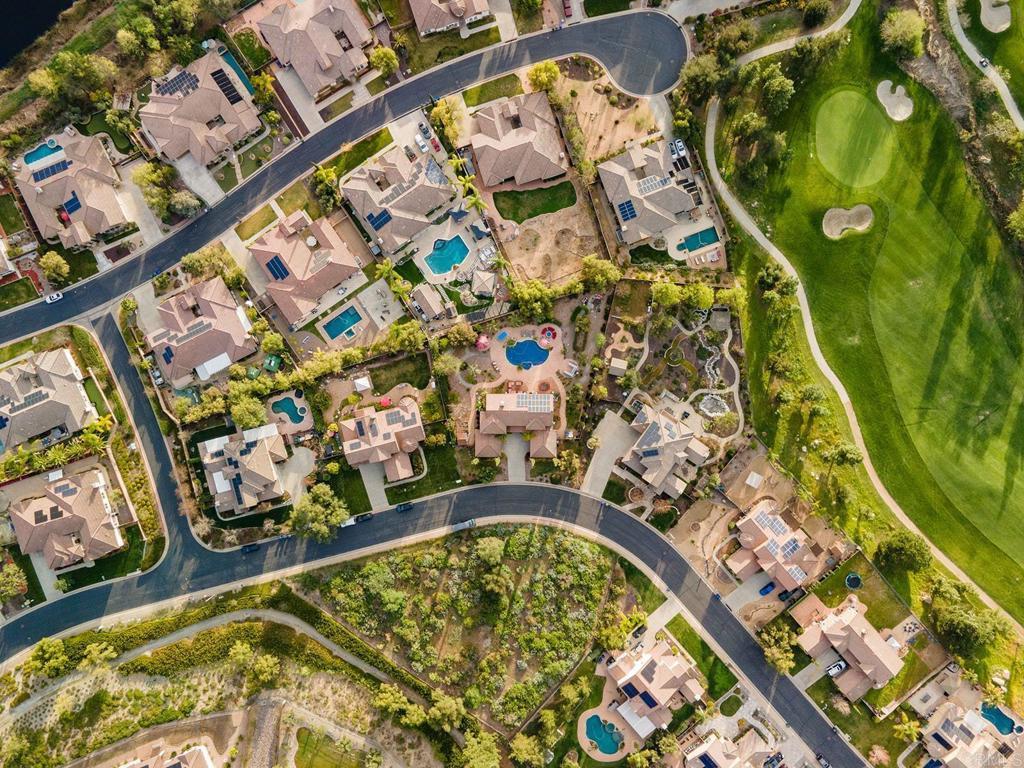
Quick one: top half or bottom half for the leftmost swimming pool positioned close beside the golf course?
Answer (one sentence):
The leftmost swimming pool positioned close beside the golf course is in the top half of the image.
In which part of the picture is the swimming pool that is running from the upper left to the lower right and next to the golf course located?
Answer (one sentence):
The swimming pool that is running from the upper left to the lower right and next to the golf course is located in the bottom right region of the scene.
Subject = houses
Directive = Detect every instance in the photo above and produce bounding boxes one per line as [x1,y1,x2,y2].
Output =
[608,636,706,739]
[595,140,696,245]
[340,395,425,479]
[137,52,263,169]
[340,138,455,255]
[609,358,627,377]
[14,134,133,247]
[621,404,711,502]
[0,348,103,470]
[409,0,489,37]
[470,92,567,187]
[687,724,775,768]
[9,469,127,572]
[725,500,824,597]
[247,210,359,324]
[794,605,906,704]
[475,394,557,457]
[146,277,258,383]
[126,739,218,768]
[916,698,1023,768]
[256,0,374,103]
[412,283,456,320]
[198,423,288,514]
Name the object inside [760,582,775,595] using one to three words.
vehicle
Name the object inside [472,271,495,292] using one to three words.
gazebo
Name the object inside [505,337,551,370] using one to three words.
swimming pool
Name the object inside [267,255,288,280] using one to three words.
solar array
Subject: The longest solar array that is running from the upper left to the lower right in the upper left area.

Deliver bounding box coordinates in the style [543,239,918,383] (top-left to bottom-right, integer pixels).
[211,71,240,103]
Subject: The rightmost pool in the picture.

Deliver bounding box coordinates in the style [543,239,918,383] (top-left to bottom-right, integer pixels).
[981,702,1024,737]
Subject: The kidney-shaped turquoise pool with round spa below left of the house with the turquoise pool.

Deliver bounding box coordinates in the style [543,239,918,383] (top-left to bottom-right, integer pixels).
[584,715,623,757]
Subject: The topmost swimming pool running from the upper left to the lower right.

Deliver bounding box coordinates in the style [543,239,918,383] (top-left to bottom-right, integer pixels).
[216,44,253,96]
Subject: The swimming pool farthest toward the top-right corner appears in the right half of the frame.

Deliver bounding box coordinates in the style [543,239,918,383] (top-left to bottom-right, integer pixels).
[676,225,721,253]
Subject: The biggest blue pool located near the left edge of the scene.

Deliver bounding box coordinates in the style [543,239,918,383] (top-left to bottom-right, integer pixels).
[21,137,62,169]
